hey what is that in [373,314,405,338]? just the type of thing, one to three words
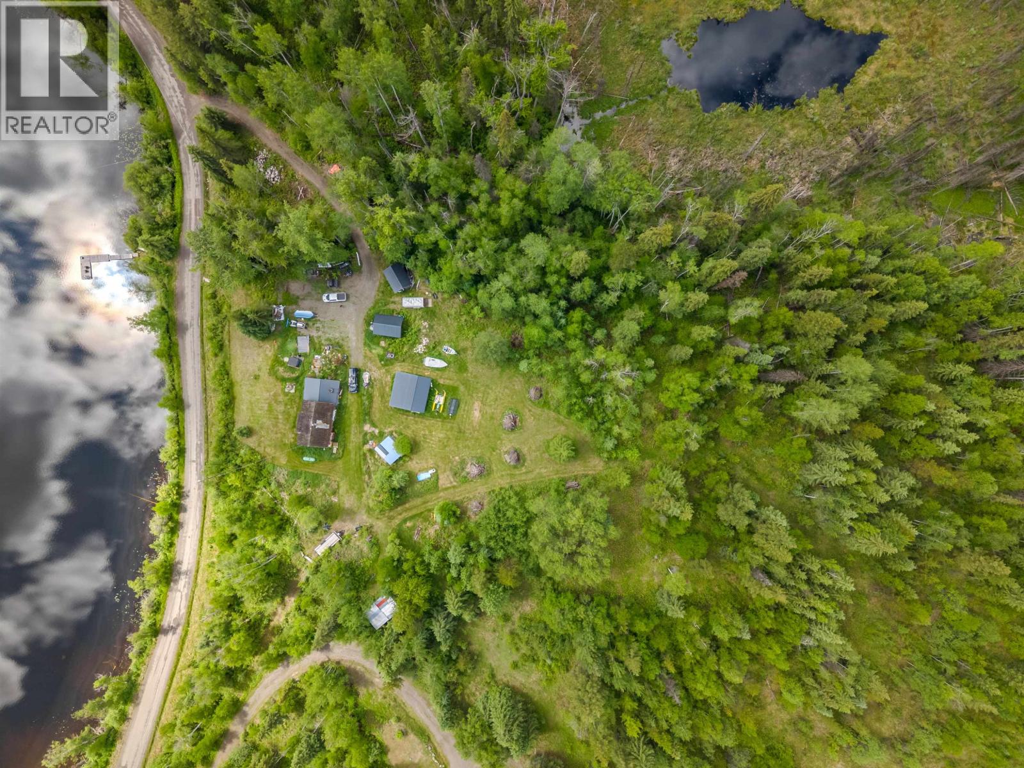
shed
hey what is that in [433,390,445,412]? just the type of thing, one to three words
boat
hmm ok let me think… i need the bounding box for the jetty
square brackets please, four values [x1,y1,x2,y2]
[79,253,136,280]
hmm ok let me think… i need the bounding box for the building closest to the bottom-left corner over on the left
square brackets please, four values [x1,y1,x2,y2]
[366,595,397,628]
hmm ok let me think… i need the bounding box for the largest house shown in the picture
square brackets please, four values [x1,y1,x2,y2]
[297,378,342,453]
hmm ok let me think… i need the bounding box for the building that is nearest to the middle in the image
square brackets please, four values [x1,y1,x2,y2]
[389,371,432,413]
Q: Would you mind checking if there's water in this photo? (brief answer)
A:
Yes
